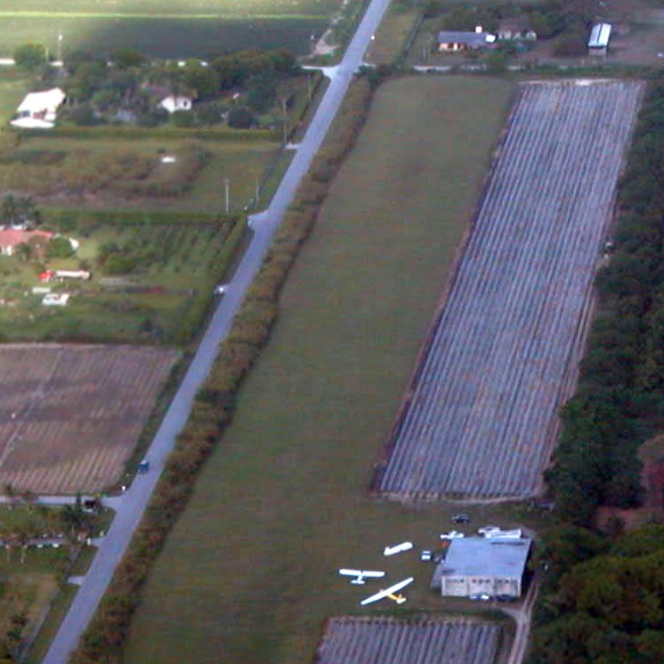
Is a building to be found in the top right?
Yes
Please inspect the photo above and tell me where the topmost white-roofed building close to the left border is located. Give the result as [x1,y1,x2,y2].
[11,92,69,126]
